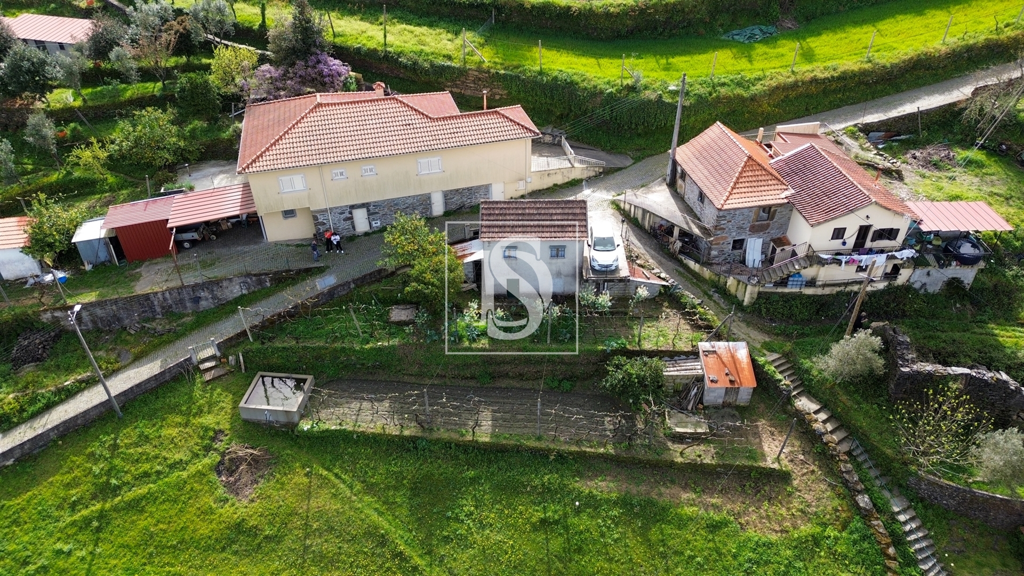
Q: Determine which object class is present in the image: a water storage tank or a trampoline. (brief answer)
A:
water storage tank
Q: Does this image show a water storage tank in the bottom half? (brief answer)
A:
Yes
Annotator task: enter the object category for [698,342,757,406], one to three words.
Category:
shed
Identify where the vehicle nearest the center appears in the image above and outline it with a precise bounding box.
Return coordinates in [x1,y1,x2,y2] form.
[587,223,622,271]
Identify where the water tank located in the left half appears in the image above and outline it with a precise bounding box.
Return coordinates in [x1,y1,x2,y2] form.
[238,372,315,422]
